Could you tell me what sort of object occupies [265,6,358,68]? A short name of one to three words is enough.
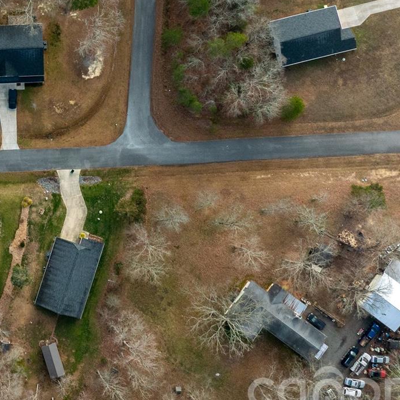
house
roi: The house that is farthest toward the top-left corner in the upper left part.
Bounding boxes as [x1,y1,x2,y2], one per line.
[0,15,45,84]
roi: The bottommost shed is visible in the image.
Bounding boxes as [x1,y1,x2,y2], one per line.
[41,339,65,379]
